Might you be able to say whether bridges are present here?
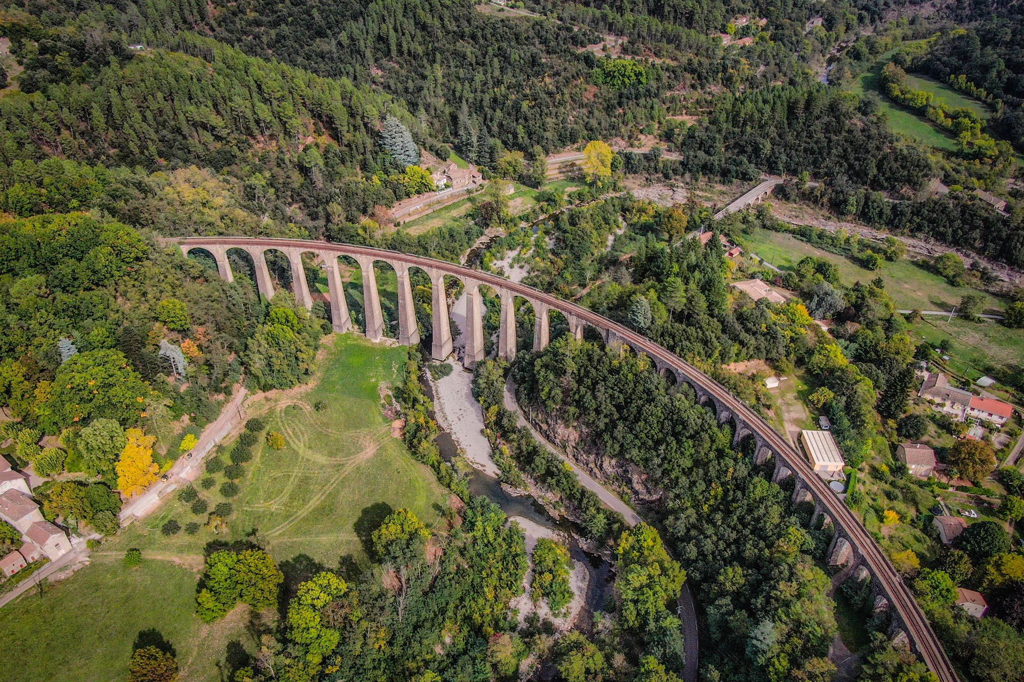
Yes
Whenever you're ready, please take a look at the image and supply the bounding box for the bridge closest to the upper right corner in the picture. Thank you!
[707,178,786,225]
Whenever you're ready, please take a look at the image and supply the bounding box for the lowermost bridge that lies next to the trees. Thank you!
[159,238,963,682]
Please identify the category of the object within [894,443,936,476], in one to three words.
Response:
house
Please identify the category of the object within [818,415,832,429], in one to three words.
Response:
vehicle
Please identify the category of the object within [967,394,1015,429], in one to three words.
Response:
house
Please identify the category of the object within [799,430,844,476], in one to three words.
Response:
building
